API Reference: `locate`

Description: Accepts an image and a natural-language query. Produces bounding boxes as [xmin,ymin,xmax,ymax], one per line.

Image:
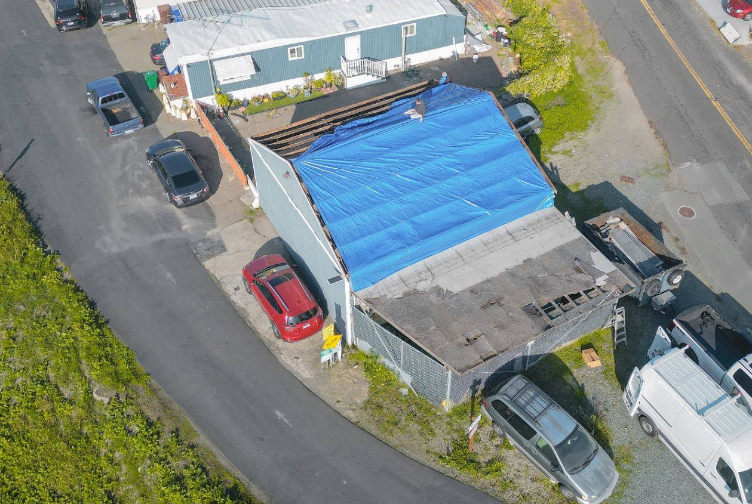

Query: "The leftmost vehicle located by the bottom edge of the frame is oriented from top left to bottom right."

[480,371,626,504]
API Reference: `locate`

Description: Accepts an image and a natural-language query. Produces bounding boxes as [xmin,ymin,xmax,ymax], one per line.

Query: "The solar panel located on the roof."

[328,265,345,287]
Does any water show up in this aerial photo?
No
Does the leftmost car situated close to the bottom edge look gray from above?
Yes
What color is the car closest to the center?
red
